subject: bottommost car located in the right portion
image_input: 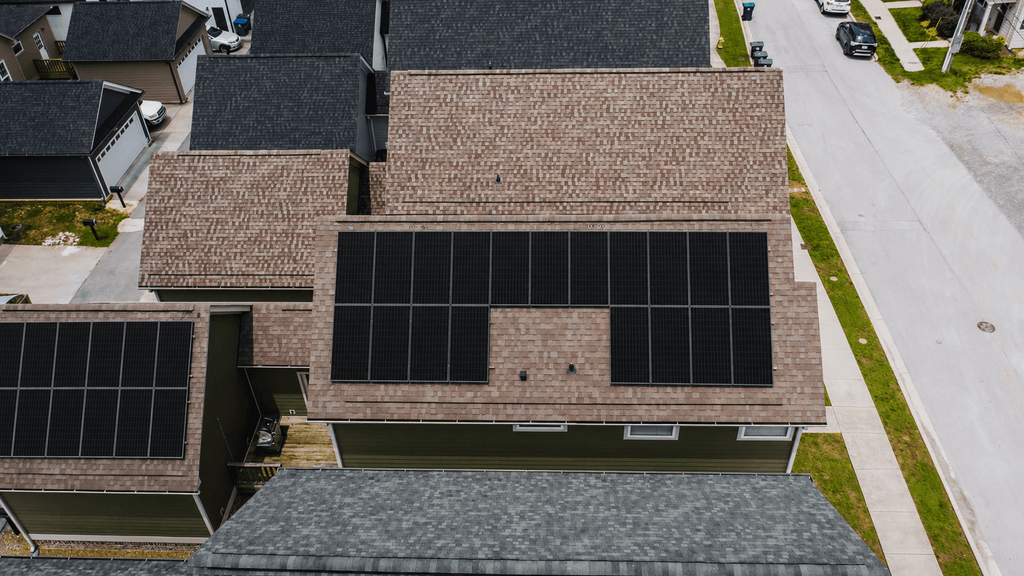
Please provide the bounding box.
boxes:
[838,19,879,52]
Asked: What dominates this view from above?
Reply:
buildings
